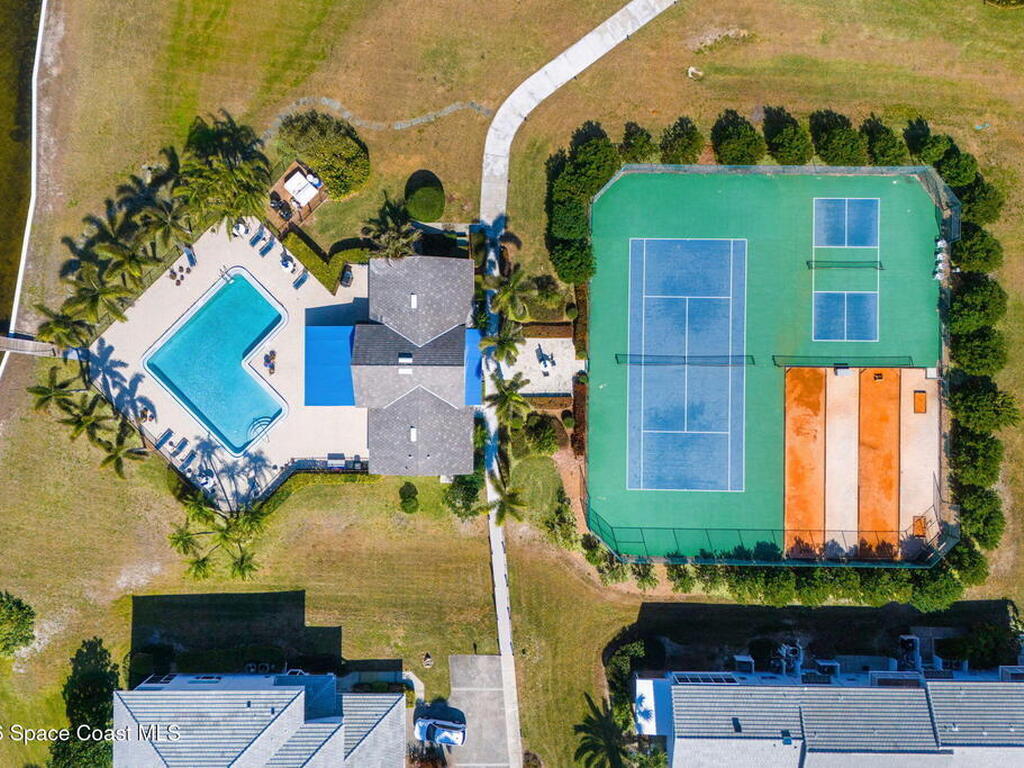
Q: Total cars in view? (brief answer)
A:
1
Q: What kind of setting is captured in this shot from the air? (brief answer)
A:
residential area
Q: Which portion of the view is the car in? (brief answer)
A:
bottom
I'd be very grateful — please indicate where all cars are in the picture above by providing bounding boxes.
[415,718,468,746]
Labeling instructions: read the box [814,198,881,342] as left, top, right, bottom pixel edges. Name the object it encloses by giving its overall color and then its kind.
blue sports court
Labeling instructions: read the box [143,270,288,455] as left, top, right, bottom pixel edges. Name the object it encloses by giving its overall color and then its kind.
blue swimming pool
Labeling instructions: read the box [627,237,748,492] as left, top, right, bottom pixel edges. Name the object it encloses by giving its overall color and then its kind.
blue tennis court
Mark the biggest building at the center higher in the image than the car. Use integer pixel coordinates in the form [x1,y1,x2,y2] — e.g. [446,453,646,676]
[351,255,474,476]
